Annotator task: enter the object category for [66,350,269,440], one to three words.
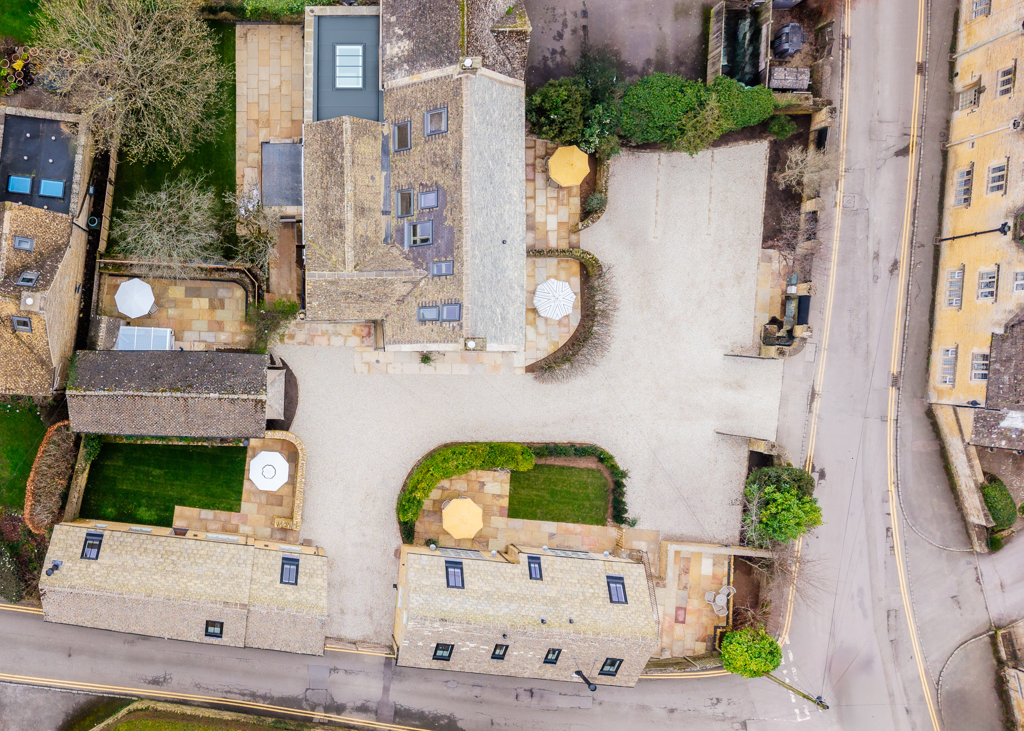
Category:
barn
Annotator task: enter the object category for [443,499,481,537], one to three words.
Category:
umbrella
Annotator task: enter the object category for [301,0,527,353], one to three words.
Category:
house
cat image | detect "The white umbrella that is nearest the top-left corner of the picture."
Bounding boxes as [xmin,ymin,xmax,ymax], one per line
[115,278,155,318]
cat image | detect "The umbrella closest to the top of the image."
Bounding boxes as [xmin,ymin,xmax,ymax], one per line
[547,148,587,187]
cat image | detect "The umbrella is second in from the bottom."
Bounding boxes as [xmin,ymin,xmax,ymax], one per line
[250,452,288,489]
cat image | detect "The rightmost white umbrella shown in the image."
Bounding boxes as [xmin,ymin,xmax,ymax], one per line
[533,279,575,320]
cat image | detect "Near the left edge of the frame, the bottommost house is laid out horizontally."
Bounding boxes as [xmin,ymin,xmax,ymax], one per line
[39,519,328,658]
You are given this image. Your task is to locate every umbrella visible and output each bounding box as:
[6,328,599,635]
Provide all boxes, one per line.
[250,452,288,489]
[443,499,481,537]
[115,278,155,318]
[547,148,587,187]
[533,279,575,320]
